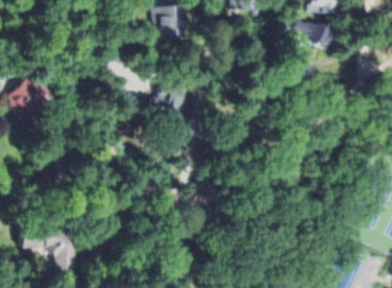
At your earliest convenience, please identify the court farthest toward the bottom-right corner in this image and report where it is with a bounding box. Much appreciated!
[352,256,387,288]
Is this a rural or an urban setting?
rural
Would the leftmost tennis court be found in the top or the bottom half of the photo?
bottom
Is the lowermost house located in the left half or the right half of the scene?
left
